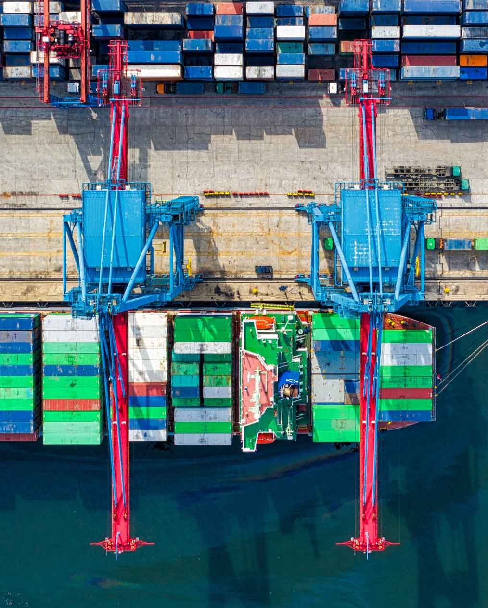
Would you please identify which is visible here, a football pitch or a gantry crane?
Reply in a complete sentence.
Of the two, only a gantry crane appears.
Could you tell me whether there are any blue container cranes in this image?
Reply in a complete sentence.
Yes, looking at the shot, I can spot a blue container crane.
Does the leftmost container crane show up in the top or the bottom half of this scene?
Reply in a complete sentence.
The top half of the photo is where the leftmost container crane is.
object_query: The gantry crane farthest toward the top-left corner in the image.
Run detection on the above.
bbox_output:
[34,0,113,107]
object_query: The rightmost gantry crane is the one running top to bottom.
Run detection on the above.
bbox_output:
[294,38,440,563]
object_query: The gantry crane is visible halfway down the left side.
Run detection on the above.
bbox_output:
[60,38,205,563]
